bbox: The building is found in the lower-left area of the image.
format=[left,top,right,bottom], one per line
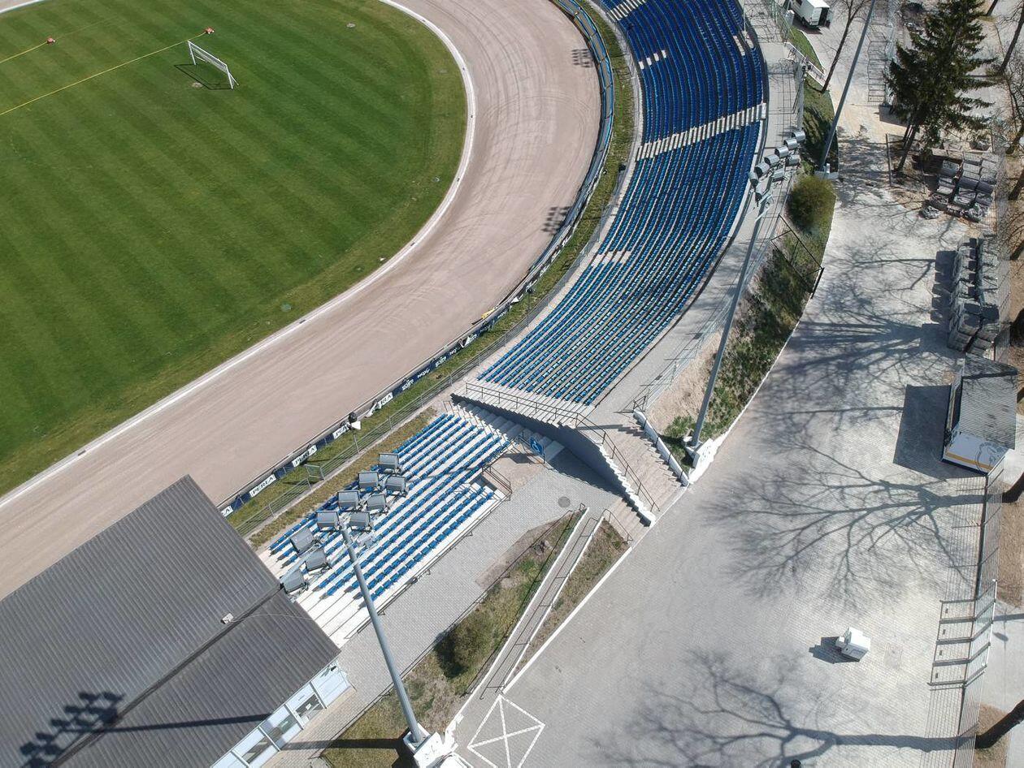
[0,476,359,768]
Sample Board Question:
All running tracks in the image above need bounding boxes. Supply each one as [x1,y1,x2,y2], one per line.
[0,0,600,602]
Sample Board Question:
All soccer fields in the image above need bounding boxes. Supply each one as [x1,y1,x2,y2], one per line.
[0,0,469,509]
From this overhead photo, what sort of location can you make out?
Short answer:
sports ground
